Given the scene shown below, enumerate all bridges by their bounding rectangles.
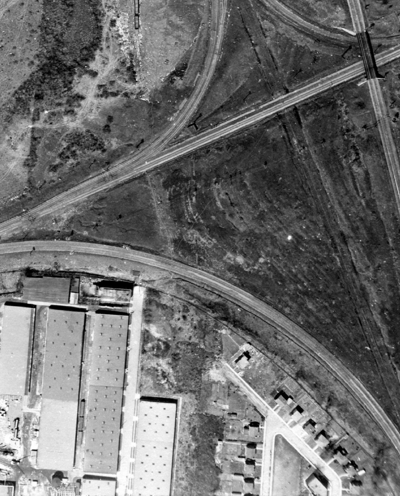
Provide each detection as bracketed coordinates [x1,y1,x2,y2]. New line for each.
[331,26,386,86]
